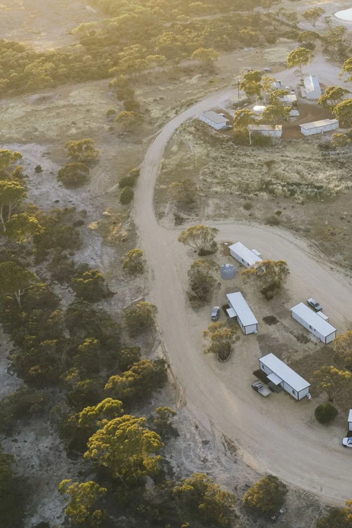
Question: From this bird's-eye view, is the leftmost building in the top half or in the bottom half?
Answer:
top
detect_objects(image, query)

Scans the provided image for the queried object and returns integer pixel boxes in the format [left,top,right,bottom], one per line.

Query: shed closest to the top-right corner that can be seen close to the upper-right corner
[303,75,321,97]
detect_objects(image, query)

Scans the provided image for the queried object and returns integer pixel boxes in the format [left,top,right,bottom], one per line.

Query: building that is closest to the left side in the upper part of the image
[200,111,229,130]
